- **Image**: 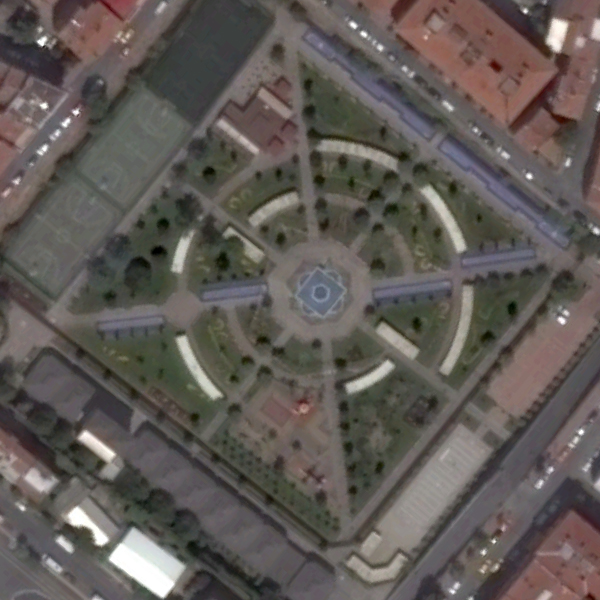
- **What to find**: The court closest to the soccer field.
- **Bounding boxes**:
[74,84,192,212]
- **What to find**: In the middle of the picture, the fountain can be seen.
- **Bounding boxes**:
[296,268,346,318]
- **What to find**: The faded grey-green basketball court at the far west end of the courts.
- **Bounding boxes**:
[4,176,121,298]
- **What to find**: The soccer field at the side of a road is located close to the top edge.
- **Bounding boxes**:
[140,0,272,122]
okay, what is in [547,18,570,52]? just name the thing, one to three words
building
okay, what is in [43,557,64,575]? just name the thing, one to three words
vehicle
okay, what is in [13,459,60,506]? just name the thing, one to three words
house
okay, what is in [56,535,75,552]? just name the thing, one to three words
vehicle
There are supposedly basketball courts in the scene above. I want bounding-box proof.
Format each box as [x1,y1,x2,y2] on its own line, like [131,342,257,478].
[74,84,192,212]
[4,176,121,298]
